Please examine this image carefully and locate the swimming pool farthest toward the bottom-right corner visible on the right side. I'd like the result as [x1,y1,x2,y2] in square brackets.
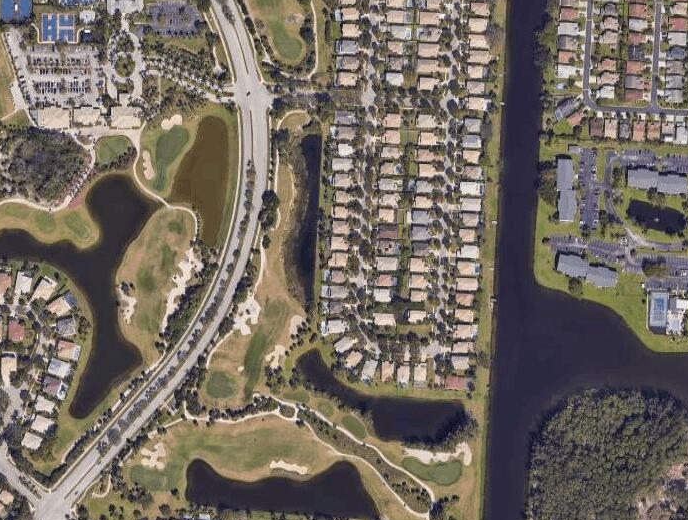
[668,309,683,336]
